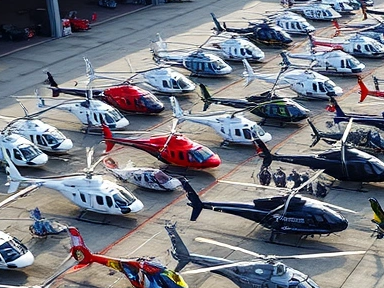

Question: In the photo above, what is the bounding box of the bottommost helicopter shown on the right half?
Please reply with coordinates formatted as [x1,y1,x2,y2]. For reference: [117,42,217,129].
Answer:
[160,232,364,288]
